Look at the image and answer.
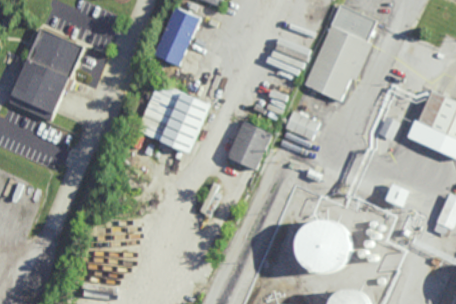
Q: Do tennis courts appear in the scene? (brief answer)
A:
No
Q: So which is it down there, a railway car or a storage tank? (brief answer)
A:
storage tank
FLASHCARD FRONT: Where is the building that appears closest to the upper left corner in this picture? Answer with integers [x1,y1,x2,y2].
[9,30,84,121]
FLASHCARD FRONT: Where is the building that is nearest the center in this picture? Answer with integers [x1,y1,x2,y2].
[228,121,274,170]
